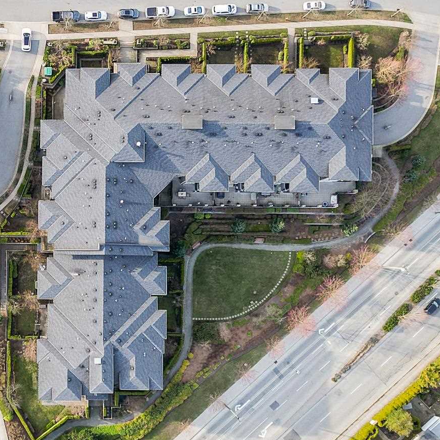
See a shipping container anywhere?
No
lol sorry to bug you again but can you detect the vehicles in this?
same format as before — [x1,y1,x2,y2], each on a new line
[246,1,269,13]
[51,10,80,23]
[118,7,139,19]
[422,296,440,316]
[348,0,371,10]
[145,5,175,18]
[183,5,205,17]
[84,10,107,21]
[212,5,237,15]
[302,0,325,11]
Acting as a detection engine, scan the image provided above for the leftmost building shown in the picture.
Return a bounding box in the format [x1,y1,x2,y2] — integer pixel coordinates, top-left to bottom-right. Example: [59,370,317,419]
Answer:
[37,62,375,401]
